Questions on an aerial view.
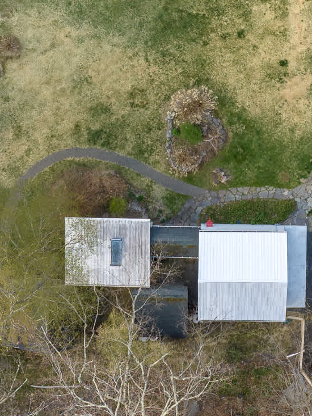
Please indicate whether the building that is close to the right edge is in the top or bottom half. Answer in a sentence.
The building that is close to the right edge sits in the bottom half of the picture.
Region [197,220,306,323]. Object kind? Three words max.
building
